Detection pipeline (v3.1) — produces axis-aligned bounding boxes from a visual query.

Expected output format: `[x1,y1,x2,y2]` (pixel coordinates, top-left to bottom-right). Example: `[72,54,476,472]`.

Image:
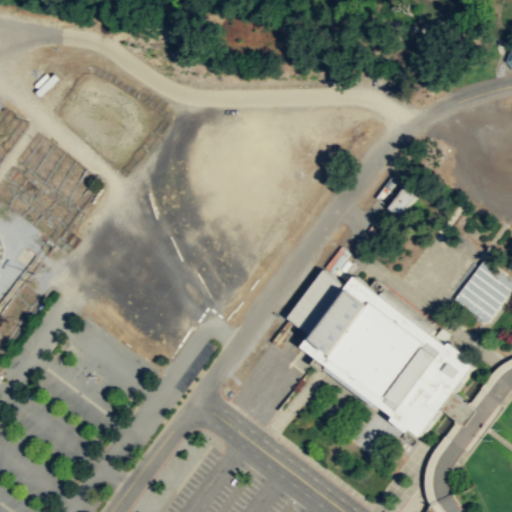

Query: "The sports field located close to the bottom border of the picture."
[466,406,512,512]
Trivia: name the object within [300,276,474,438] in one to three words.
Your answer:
building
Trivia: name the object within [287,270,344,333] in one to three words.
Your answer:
shed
